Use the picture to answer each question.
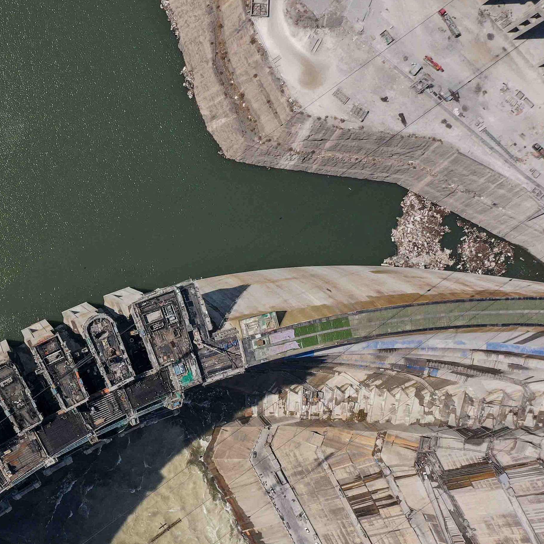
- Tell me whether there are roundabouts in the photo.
No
